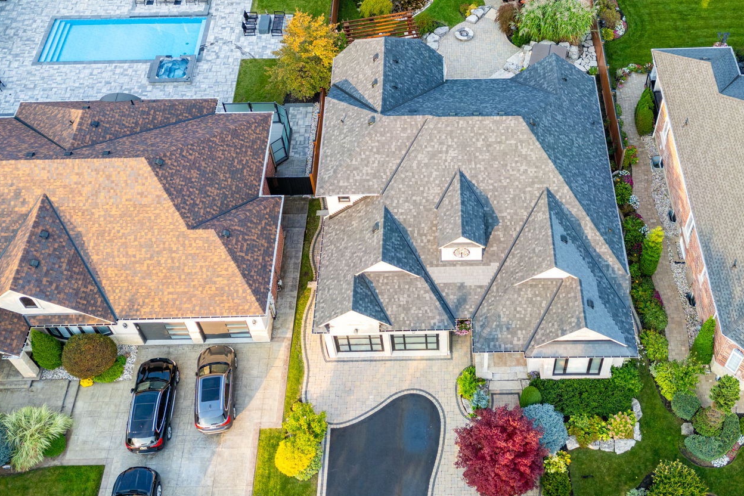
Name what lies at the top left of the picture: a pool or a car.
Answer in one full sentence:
It is a pool that can be seen at the top left of the picture.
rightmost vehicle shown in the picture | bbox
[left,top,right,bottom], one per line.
[188,347,237,441]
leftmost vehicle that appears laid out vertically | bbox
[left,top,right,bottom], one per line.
[119,360,179,461]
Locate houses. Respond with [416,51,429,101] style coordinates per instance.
[310,36,641,378]
[650,45,744,383]
[0,97,286,386]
